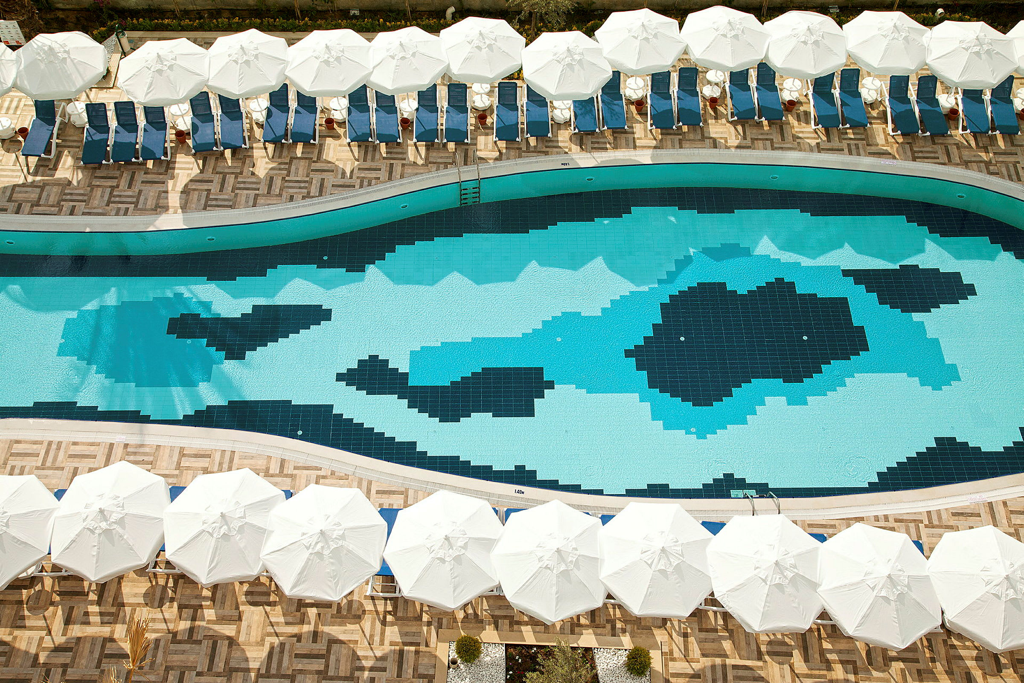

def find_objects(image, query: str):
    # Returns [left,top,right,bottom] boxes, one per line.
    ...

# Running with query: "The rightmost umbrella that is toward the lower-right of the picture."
[930,525,1024,649]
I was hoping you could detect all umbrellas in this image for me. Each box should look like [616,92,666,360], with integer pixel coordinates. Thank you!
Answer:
[284,28,370,125]
[363,26,449,123]
[19,31,115,129]
[0,463,67,577]
[441,16,525,111]
[0,43,37,140]
[930,525,1024,649]
[265,483,386,600]
[53,462,170,581]
[712,515,827,632]
[824,524,940,649]
[680,5,766,101]
[596,8,687,103]
[383,488,507,609]
[522,30,612,125]
[762,8,852,104]
[500,498,615,621]
[168,466,284,584]
[119,34,208,132]
[607,502,718,616]
[203,28,289,126]
[928,21,1017,117]
[844,10,933,105]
